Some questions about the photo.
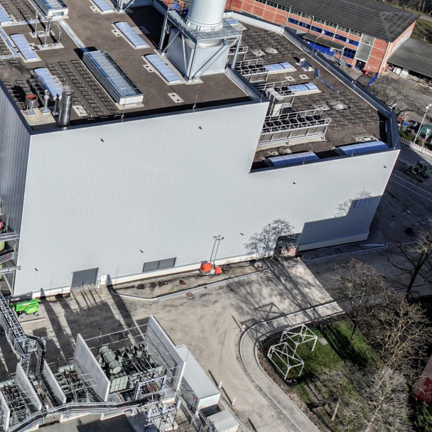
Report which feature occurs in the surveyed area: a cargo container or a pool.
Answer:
cargo container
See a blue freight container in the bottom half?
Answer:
No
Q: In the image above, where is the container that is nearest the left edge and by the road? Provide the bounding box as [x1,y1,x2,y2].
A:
[174,344,221,411]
